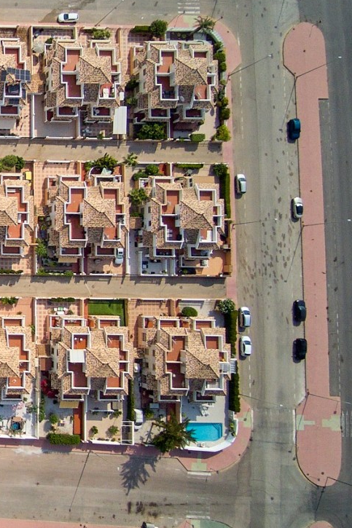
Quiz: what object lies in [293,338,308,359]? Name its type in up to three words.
car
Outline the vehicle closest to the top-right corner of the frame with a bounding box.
[287,119,302,140]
